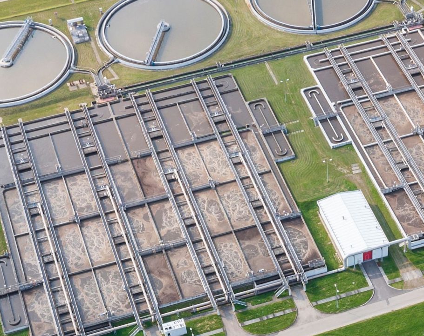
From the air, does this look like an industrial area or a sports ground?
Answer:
industrial area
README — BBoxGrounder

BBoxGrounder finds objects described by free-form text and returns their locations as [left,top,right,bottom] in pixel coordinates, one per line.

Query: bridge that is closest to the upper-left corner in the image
[0,15,36,64]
